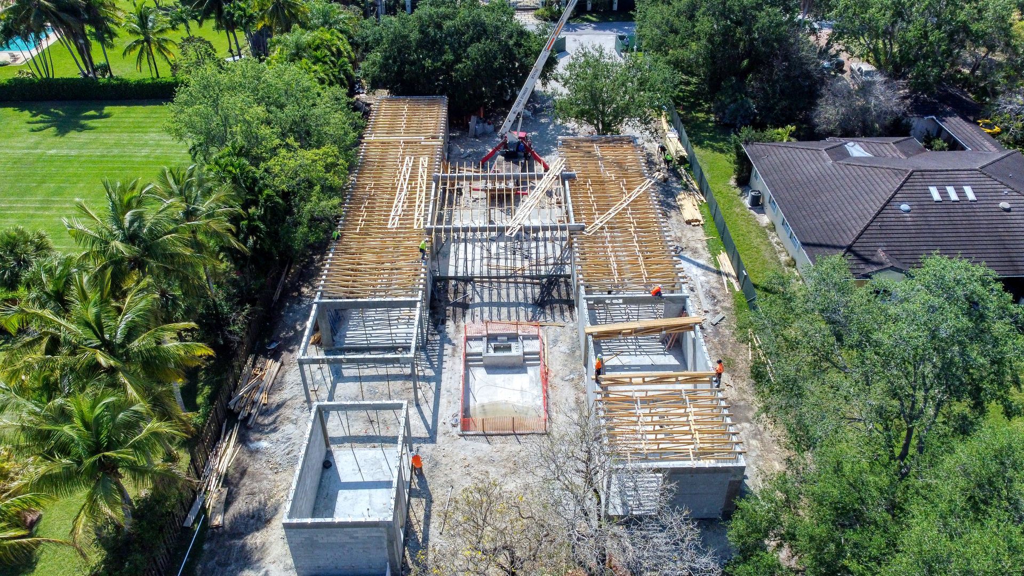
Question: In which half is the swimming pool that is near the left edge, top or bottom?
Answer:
top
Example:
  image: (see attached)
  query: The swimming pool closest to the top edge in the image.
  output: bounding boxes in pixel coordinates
[0,16,60,66]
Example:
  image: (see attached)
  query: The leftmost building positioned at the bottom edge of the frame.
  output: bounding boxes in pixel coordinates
[283,400,413,572]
